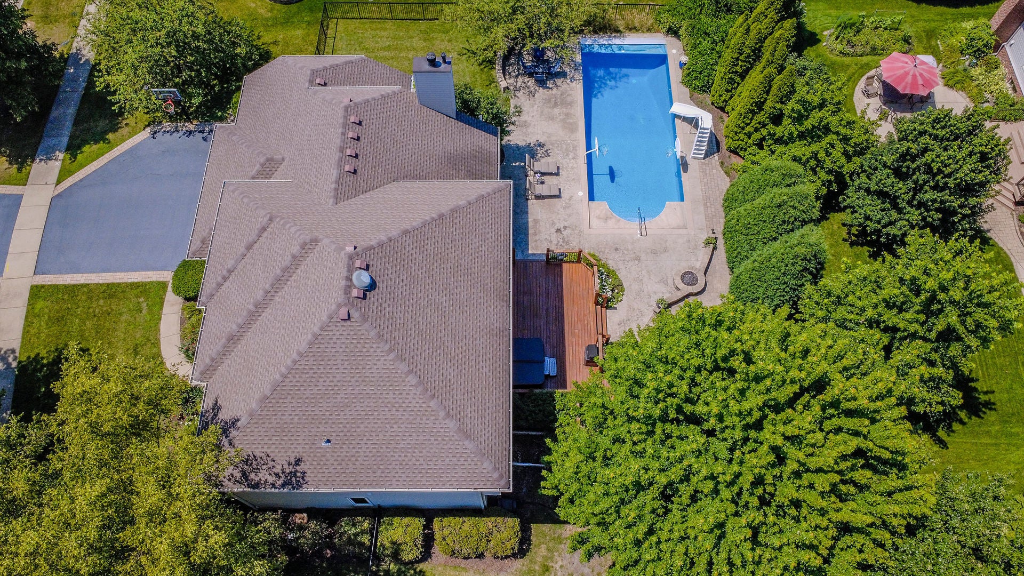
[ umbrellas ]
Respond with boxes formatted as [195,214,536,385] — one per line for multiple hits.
[883,52,939,100]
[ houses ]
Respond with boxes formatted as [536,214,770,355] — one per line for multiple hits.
[969,0,1024,103]
[185,49,514,507]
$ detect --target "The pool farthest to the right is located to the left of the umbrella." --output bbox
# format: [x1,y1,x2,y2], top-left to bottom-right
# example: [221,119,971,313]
[581,43,683,221]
